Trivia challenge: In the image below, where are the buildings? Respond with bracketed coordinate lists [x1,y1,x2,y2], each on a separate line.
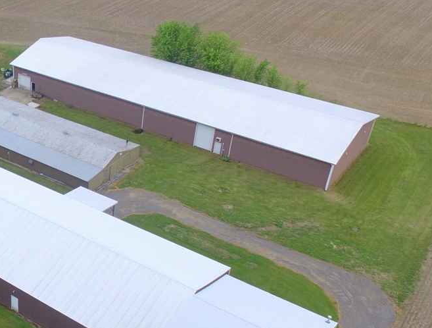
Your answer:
[0,167,338,328]
[0,96,141,189]
[8,36,379,192]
